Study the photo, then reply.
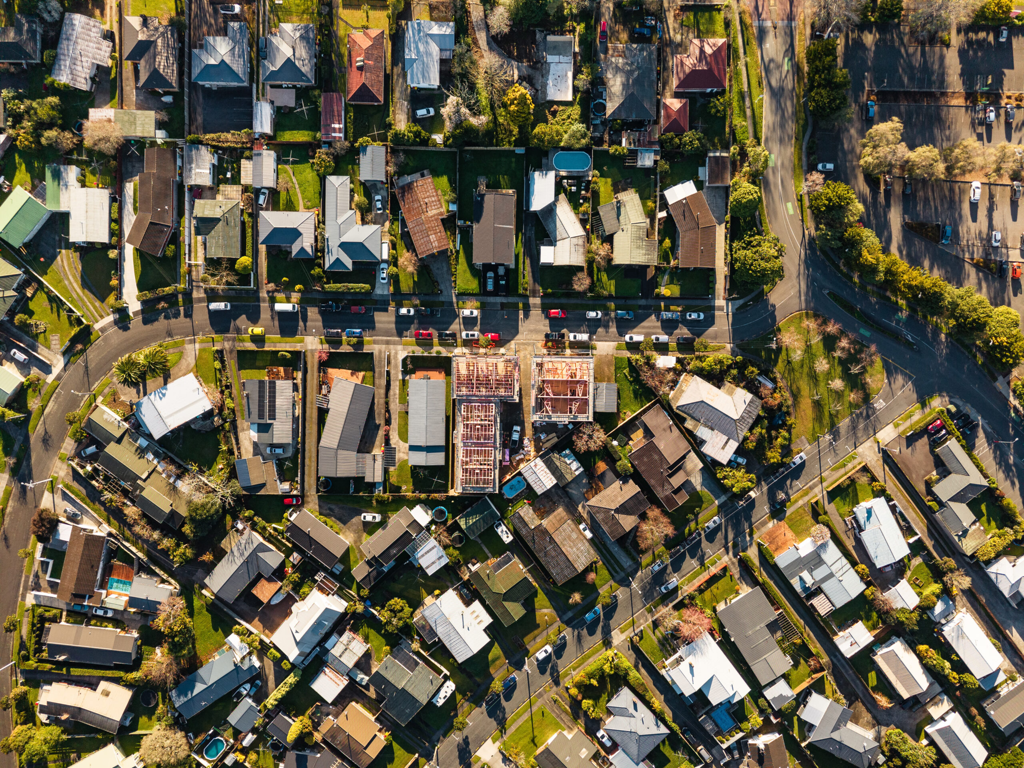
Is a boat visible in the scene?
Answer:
Yes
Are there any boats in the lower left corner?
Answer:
Yes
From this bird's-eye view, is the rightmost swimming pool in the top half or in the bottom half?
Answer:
bottom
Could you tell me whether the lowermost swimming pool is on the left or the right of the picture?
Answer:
left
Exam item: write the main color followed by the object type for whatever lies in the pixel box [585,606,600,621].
blue car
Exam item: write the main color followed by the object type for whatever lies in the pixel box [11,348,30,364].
white car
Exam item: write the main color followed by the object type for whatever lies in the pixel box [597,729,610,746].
white vehicle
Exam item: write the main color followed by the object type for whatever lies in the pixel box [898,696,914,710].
black car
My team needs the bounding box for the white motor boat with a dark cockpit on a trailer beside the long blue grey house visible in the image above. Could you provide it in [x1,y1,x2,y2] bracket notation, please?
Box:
[232,682,250,704]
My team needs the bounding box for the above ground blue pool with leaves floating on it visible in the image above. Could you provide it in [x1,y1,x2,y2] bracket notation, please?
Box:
[502,476,526,497]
